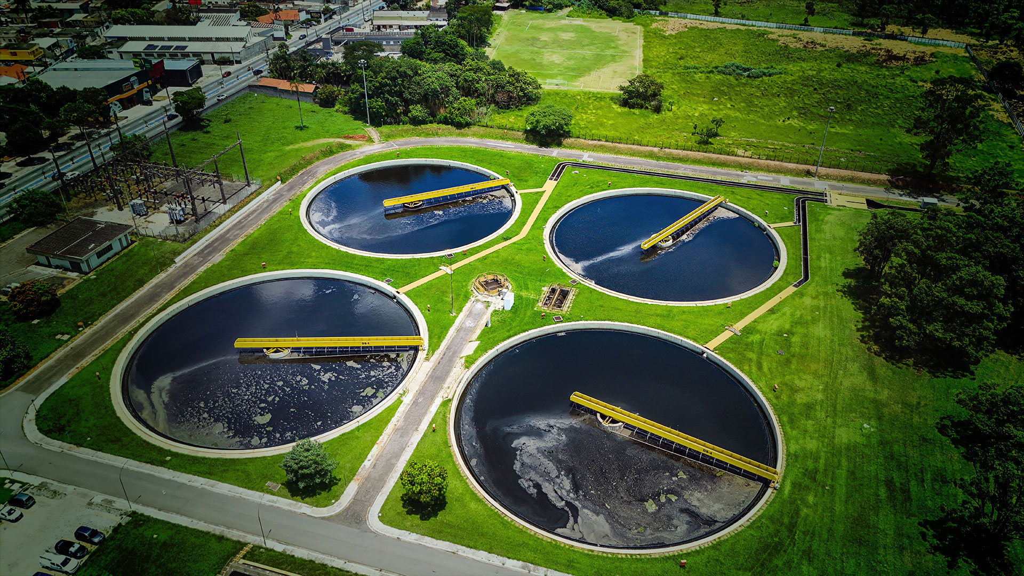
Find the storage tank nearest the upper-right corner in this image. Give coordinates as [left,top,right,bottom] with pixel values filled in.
[541,187,788,309]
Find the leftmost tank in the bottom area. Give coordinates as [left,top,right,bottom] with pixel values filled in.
[107,268,431,463]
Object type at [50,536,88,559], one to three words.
car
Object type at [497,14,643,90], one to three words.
soccer field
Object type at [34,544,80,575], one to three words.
truck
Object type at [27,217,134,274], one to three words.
building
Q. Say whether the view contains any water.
Yes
